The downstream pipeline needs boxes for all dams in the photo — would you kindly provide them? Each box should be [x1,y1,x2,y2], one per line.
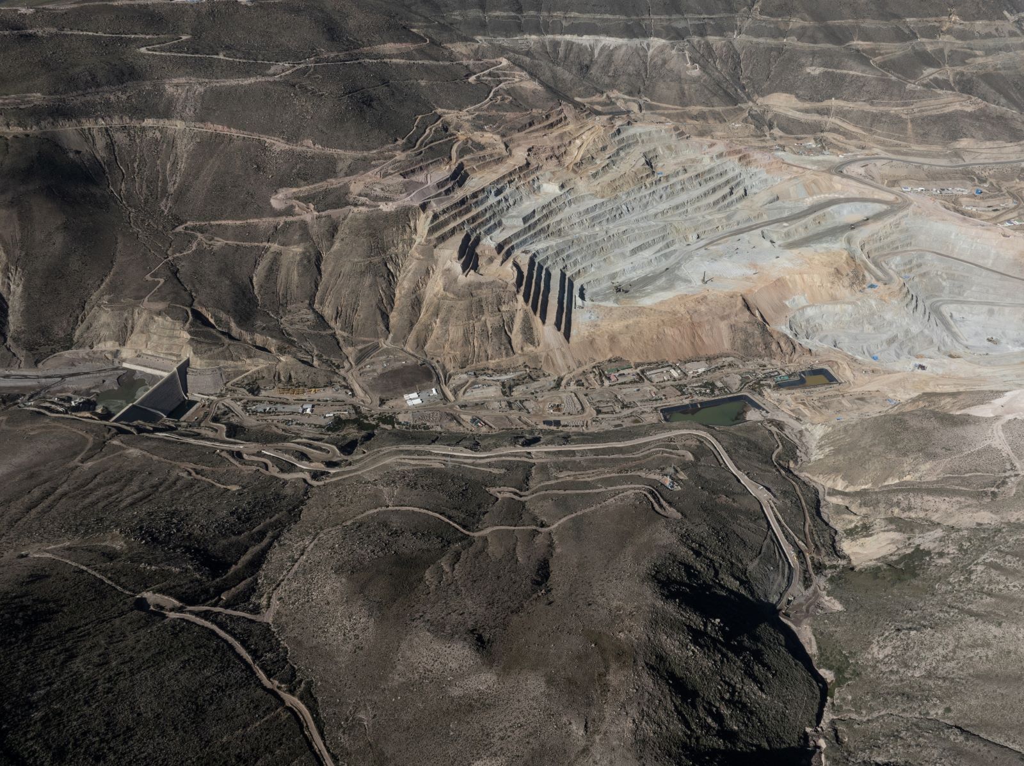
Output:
[107,356,202,426]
